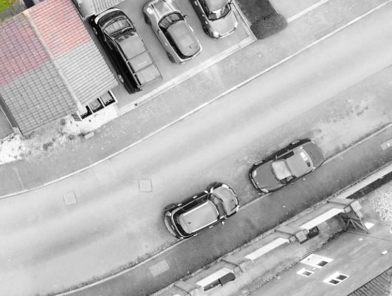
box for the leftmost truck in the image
[91,7,168,97]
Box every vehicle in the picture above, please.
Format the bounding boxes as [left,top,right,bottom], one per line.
[143,0,201,66]
[249,140,335,198]
[188,0,238,40]
[163,185,243,244]
[91,7,168,97]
